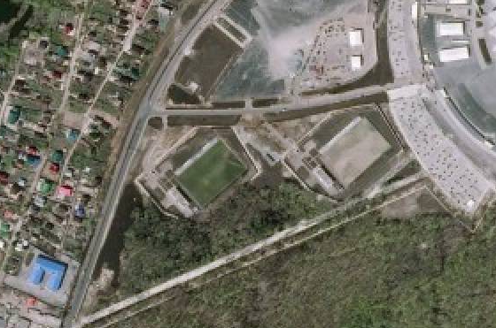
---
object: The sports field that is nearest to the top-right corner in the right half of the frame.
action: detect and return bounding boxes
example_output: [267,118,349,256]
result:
[321,120,390,188]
